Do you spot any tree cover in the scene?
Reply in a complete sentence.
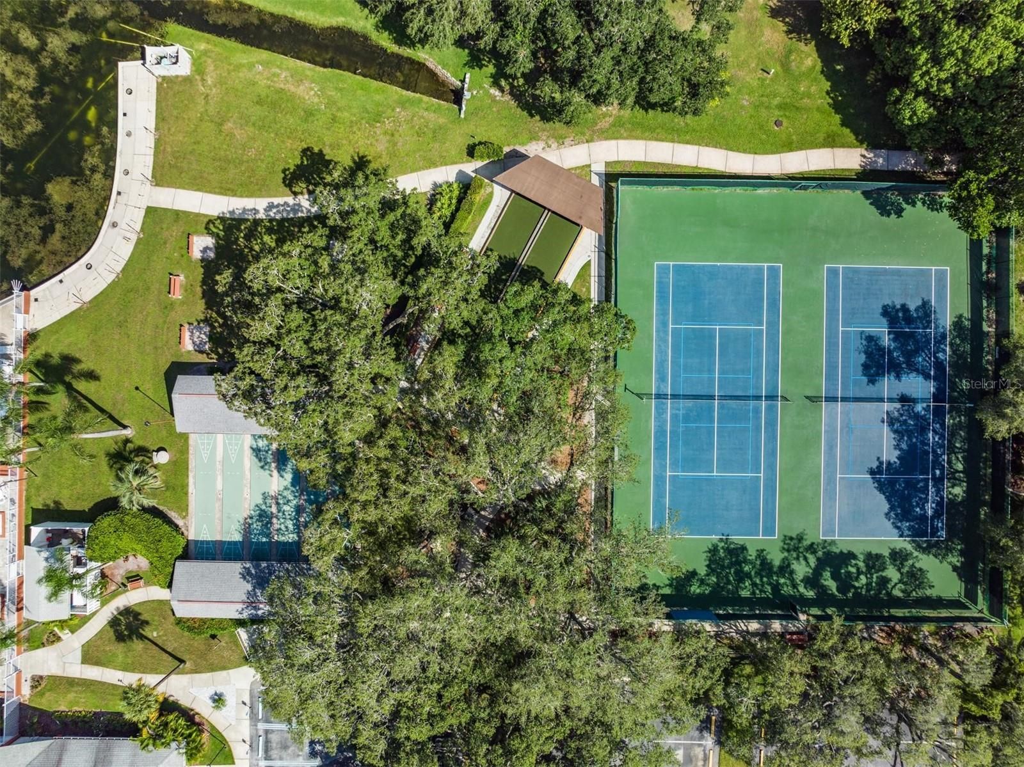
Yes, tree cover can be seen from above here.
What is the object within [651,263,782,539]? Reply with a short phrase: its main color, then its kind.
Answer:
blue tennis court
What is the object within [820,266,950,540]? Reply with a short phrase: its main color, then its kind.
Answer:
blue tennis court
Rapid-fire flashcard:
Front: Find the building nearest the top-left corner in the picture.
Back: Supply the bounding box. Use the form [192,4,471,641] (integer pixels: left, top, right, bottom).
[141,43,191,75]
